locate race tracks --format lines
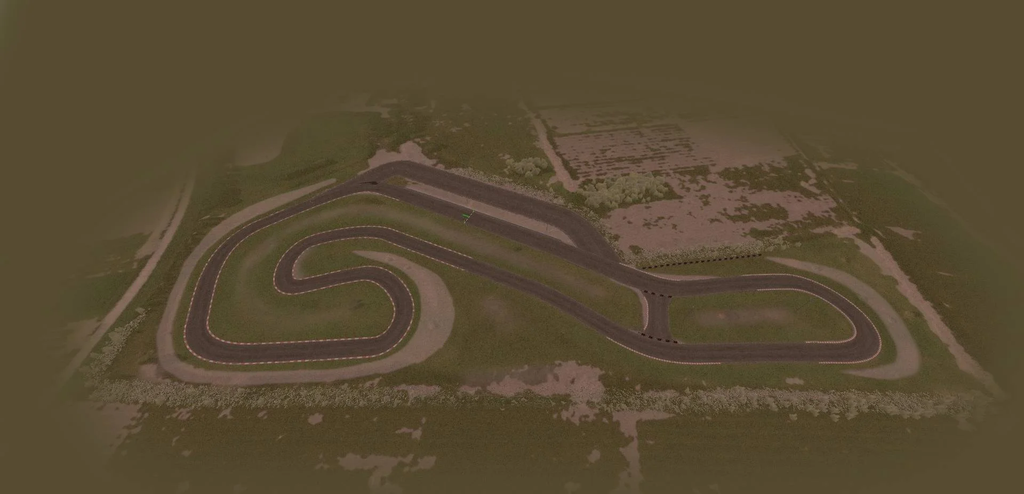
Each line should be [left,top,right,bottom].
[186,182,880,364]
